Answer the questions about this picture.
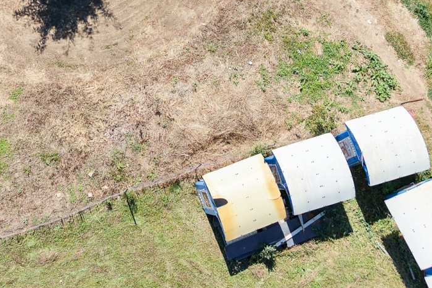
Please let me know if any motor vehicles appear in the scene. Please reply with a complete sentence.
No, no motor vehicle is visible in the scene.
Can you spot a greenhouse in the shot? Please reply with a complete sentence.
No, I can see no greenhouse in this picture.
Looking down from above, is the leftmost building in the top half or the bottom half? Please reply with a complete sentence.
You can find the leftmost building in the bottom half.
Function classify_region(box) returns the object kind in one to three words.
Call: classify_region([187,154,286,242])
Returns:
building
